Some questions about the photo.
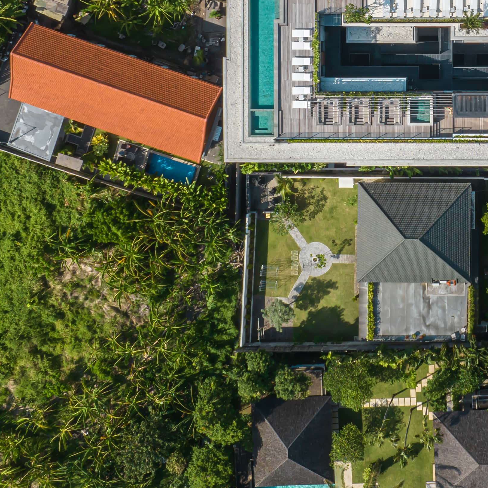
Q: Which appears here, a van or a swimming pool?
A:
swimming pool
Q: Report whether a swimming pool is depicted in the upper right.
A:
Yes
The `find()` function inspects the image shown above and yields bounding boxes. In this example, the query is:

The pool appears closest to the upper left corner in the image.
[144,150,200,178]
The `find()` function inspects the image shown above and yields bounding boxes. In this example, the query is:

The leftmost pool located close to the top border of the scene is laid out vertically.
[252,0,280,110]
